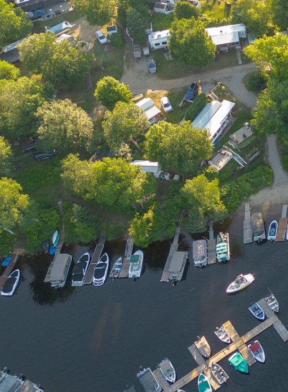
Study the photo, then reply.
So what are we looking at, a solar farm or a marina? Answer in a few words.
marina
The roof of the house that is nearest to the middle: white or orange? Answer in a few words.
white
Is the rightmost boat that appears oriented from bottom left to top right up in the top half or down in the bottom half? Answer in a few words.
bottom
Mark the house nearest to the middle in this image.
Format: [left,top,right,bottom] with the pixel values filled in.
[134,97,165,128]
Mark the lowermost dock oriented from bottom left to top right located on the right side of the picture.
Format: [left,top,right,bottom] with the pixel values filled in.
[158,314,280,392]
